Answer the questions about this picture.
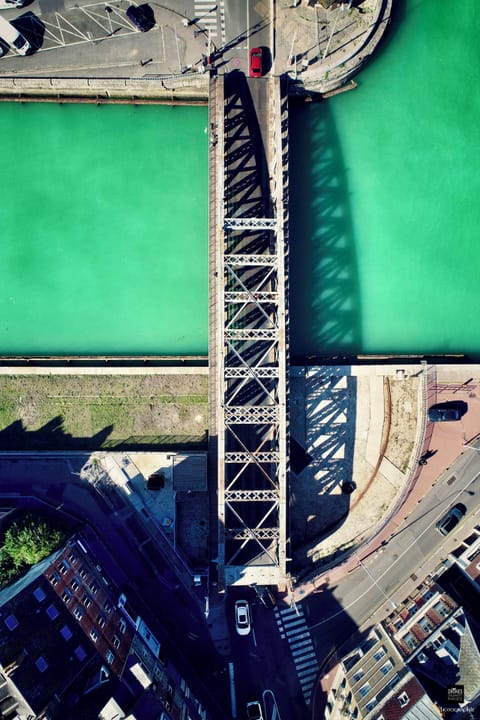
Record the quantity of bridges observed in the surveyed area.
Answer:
1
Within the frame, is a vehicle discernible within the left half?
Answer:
Yes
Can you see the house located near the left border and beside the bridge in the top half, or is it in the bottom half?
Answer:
bottom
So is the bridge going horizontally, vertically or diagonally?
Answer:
vertically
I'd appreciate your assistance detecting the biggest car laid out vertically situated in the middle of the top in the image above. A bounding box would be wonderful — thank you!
[249,44,266,77]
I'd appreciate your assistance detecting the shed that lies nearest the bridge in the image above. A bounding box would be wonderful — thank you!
[172,458,207,494]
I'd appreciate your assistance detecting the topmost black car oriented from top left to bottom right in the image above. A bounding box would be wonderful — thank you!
[124,0,151,35]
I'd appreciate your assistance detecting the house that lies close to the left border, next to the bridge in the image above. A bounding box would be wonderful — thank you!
[0,539,136,720]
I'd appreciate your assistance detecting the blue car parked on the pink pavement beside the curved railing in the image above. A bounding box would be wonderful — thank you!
[429,406,464,423]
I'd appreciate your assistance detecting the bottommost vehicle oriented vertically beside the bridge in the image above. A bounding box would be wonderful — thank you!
[234,601,251,638]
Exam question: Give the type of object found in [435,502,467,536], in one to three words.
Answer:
car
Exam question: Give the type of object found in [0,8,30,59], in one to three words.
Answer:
van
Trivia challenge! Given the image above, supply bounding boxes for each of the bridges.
[208,72,294,606]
